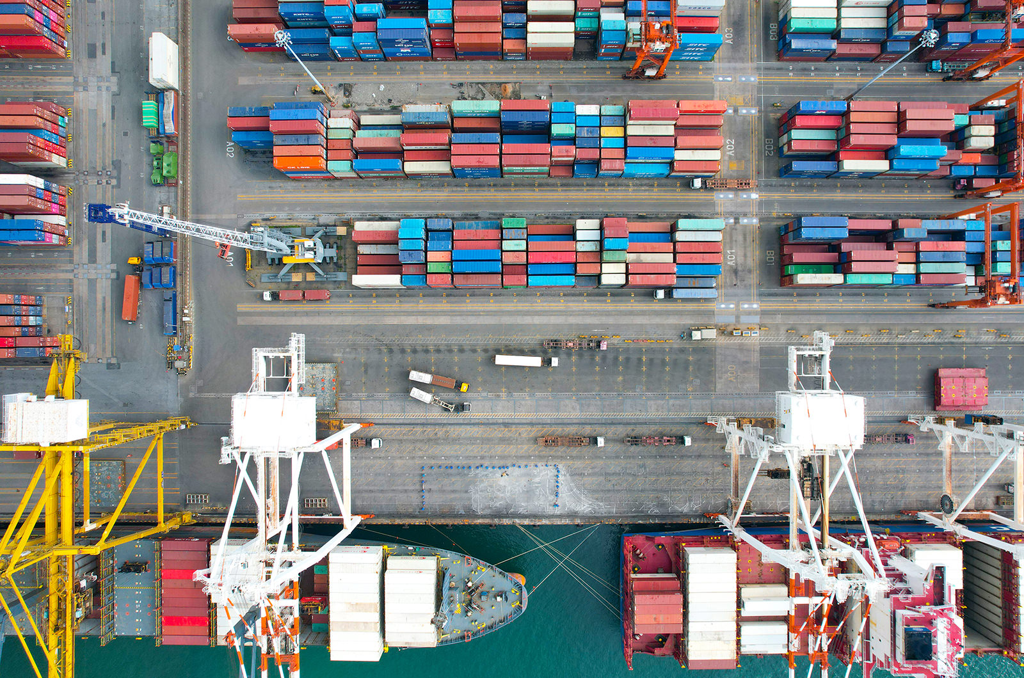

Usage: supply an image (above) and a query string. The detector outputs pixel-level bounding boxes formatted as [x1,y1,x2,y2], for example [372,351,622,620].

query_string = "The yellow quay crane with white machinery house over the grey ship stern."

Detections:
[0,335,203,678]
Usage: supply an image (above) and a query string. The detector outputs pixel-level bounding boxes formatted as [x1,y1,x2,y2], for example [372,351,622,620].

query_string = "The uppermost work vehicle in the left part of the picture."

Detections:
[308,82,325,94]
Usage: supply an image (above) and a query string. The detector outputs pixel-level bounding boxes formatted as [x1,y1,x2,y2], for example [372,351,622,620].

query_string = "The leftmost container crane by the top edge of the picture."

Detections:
[625,0,682,81]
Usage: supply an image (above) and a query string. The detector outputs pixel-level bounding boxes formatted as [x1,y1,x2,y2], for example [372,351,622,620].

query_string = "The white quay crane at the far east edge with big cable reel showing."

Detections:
[900,418,1024,562]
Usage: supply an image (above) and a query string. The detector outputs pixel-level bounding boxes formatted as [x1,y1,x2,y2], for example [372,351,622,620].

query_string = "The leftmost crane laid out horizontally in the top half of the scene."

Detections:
[112,202,338,278]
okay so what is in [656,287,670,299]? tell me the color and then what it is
white vehicle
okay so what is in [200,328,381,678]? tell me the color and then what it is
white container crane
